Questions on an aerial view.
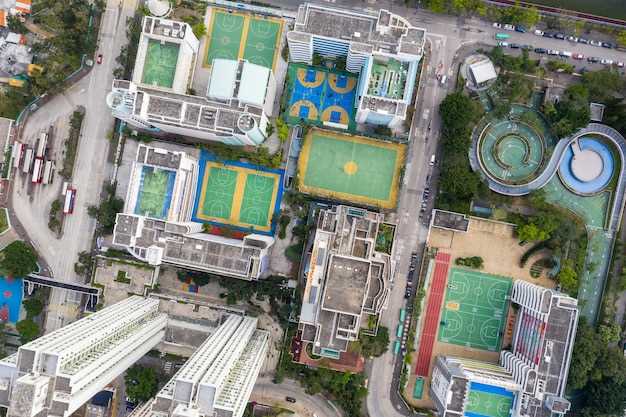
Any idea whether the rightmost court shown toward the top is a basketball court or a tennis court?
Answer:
basketball court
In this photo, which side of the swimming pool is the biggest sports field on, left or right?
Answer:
to the left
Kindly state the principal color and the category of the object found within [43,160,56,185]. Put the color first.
white vehicle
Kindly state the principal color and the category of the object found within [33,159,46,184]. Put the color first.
white vehicle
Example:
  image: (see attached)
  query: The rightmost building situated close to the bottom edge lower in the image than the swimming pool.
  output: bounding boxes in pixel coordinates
[427,279,580,417]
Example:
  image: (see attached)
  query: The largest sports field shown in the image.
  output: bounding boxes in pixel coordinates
[300,128,408,208]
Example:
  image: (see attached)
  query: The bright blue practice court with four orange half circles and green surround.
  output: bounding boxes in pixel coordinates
[279,62,361,131]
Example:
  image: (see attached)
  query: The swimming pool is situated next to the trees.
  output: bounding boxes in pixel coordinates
[558,136,613,193]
